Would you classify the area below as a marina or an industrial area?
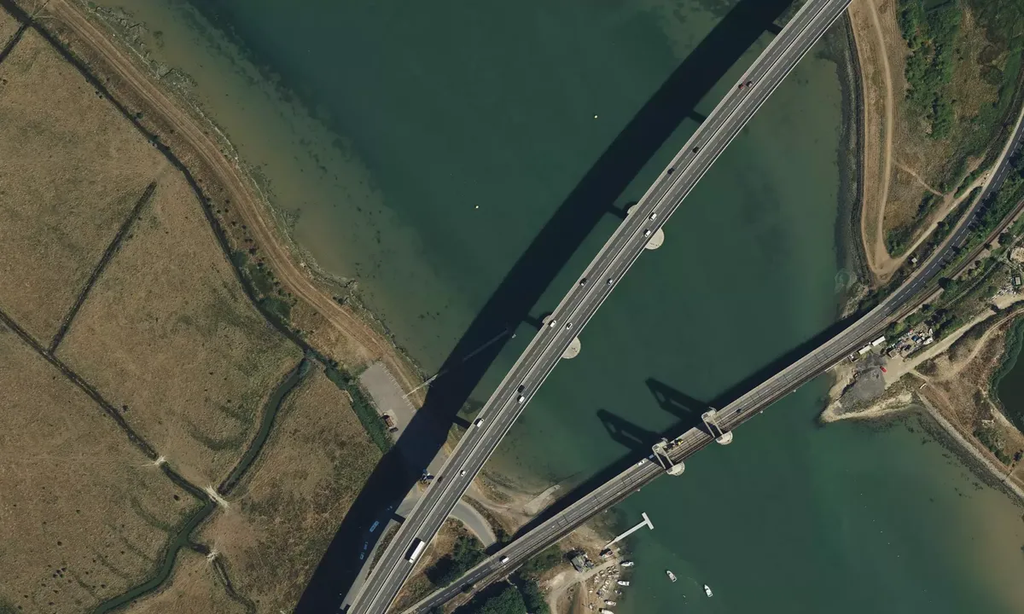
marina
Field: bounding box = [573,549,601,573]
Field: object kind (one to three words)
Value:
building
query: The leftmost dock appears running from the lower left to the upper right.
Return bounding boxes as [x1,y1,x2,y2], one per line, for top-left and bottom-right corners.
[404,330,508,396]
